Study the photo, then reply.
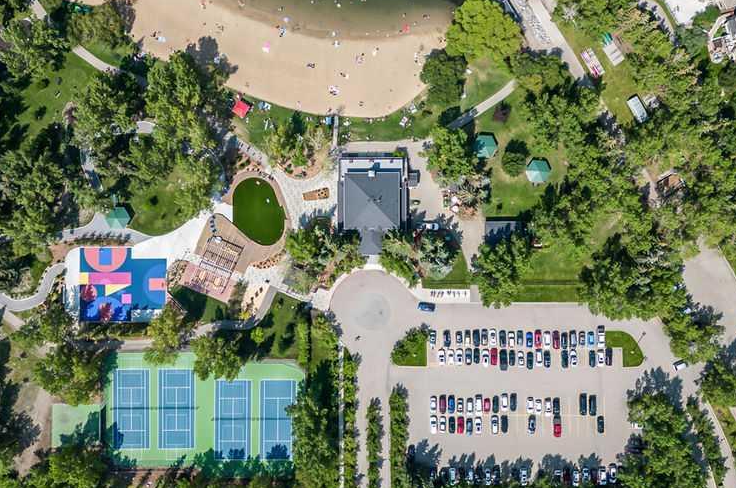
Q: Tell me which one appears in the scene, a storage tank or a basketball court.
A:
basketball court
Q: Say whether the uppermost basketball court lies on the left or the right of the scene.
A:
left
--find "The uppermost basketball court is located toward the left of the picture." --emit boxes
[66,247,168,323]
